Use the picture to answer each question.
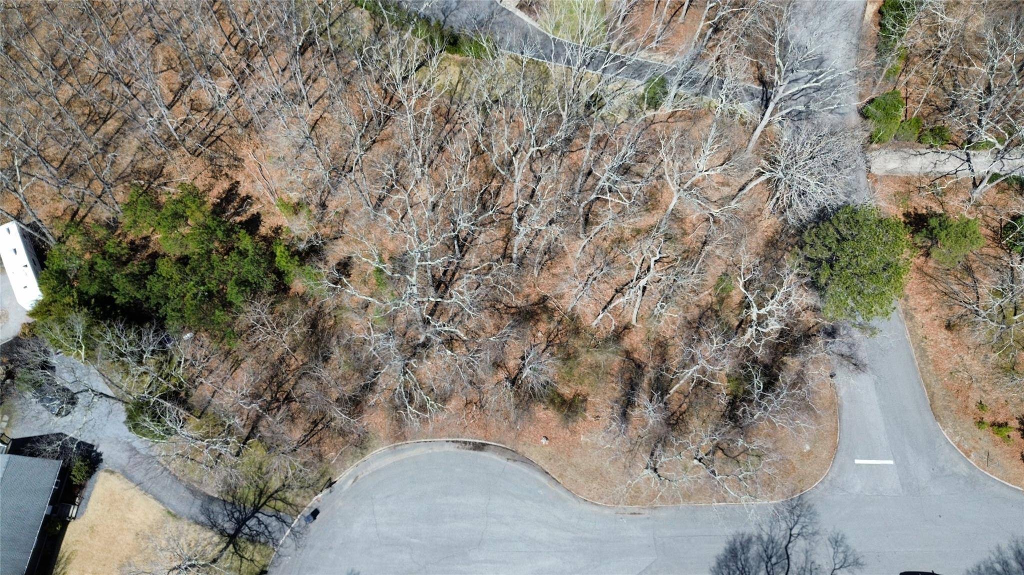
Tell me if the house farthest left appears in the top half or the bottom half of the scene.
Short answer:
bottom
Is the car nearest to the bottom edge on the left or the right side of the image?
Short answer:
left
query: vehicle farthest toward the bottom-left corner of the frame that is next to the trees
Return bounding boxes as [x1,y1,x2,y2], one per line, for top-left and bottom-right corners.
[31,383,74,419]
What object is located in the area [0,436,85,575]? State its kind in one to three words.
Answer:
house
